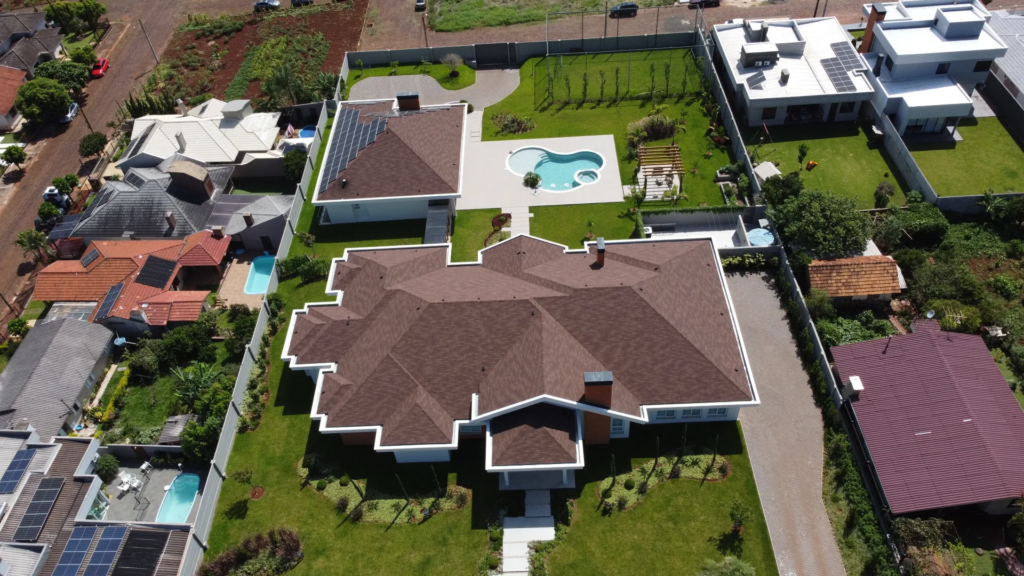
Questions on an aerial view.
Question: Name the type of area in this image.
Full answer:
What you see here is a residential area.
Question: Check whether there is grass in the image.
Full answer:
Yes, the picture does contain grass.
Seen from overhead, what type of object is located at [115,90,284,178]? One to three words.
house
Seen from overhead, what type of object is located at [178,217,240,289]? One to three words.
gazebo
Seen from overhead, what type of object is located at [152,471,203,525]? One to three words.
swimming pool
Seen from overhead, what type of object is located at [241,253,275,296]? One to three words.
swimming pool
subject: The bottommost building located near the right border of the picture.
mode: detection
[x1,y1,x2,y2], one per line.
[828,319,1024,520]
